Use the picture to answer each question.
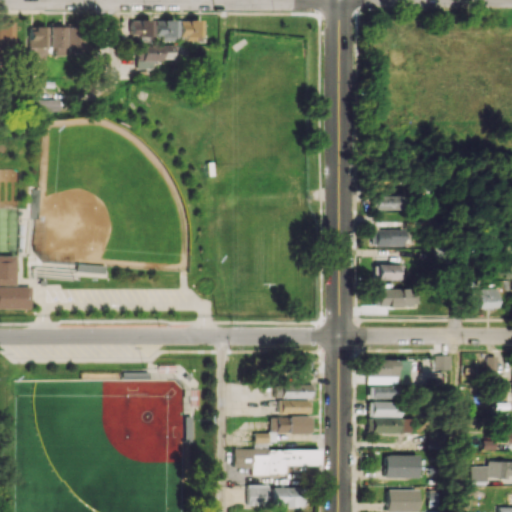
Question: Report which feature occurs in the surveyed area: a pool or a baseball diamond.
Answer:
baseball diamond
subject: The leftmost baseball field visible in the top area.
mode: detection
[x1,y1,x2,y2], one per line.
[34,117,188,268]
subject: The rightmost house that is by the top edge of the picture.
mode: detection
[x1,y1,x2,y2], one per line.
[180,20,207,43]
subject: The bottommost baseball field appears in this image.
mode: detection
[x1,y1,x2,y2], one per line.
[16,381,184,512]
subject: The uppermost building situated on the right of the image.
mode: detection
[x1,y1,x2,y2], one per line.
[374,196,405,212]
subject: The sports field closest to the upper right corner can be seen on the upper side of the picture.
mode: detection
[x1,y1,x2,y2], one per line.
[228,34,308,317]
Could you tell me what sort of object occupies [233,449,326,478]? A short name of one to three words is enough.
building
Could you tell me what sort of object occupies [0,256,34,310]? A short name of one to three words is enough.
building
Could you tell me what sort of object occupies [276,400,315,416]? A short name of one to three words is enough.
house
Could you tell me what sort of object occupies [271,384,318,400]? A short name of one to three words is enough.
house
